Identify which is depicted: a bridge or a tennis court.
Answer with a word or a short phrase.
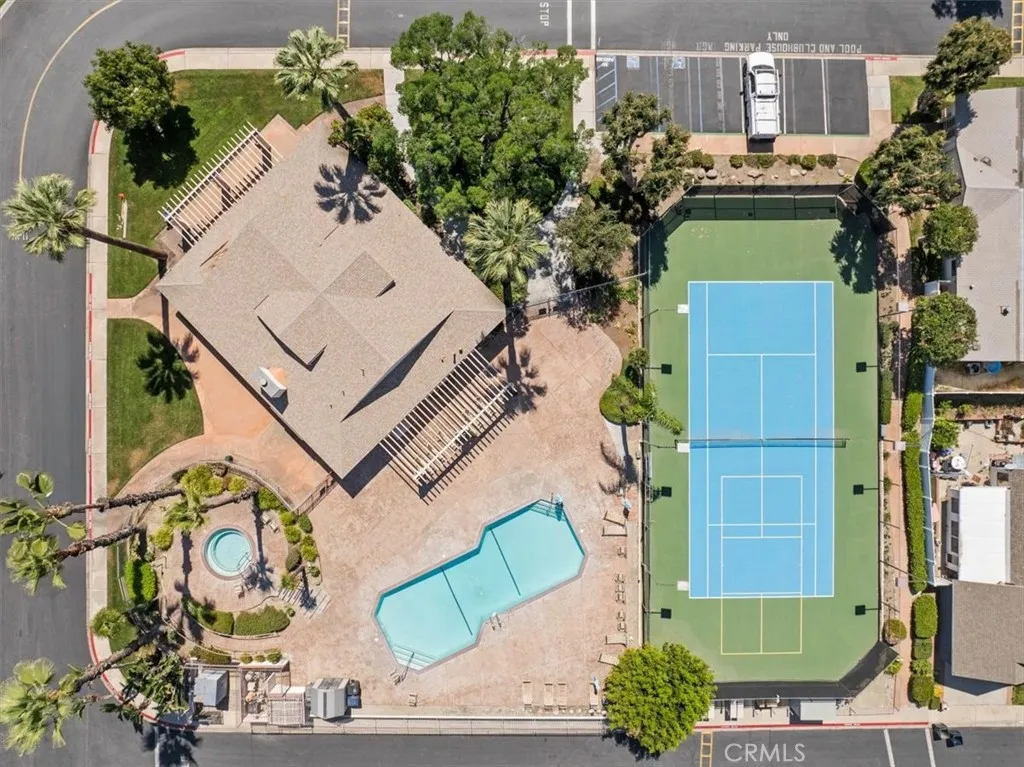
tennis court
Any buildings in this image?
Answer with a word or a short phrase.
Yes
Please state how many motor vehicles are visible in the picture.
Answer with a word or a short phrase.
1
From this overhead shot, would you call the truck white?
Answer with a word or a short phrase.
Yes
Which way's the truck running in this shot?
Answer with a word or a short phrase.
up and down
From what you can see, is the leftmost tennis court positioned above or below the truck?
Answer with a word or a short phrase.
below it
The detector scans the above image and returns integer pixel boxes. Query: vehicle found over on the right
[742,54,781,140]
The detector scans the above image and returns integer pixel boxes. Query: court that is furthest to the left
[652,198,877,681]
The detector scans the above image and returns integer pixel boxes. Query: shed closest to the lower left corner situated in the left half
[311,679,352,722]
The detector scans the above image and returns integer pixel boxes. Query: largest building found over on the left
[154,121,509,477]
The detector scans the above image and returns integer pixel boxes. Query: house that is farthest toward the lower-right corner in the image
[933,573,1024,684]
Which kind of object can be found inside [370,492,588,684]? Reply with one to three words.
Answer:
swimming pool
